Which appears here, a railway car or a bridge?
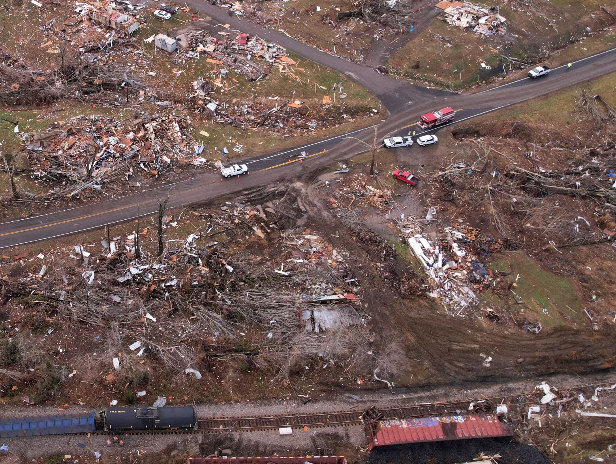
railway car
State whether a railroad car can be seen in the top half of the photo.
No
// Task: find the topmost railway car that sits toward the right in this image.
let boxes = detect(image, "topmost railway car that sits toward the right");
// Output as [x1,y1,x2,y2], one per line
[366,399,523,441]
